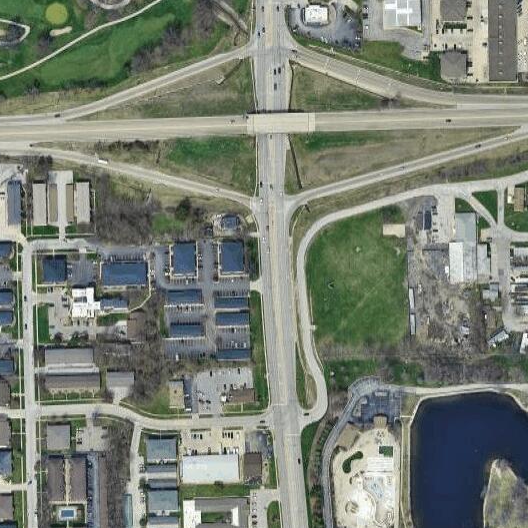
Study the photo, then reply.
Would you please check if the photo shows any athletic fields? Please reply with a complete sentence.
Yes, the image includes an athletic field.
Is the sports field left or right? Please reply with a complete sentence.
The sports field appears in the right half of the scene.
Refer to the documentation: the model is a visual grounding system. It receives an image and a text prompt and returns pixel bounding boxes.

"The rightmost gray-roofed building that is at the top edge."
[488,0,516,81]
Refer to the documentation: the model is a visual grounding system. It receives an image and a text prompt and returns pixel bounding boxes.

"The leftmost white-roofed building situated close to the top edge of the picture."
[305,4,328,27]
